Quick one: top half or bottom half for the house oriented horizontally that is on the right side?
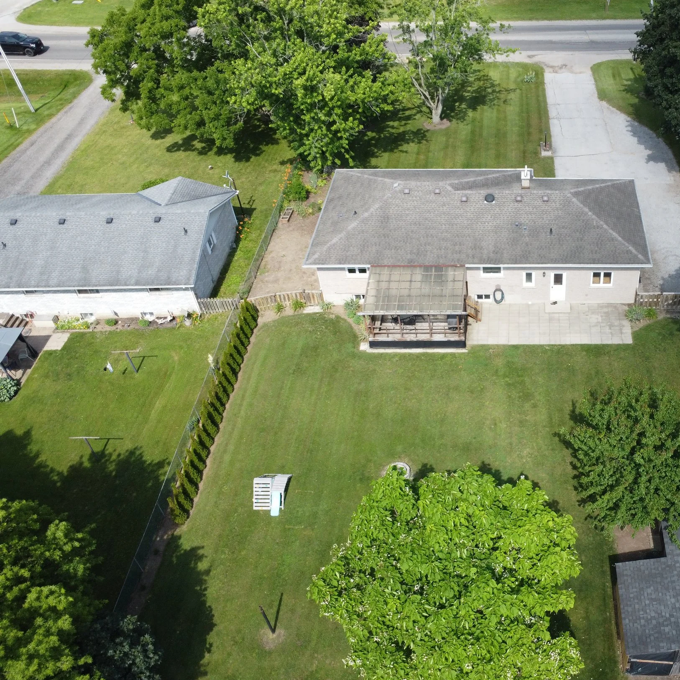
top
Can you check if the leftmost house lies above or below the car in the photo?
below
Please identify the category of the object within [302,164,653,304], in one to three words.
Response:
house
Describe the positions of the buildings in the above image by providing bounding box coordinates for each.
[0,174,244,313]
[302,164,653,304]
[618,514,680,672]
